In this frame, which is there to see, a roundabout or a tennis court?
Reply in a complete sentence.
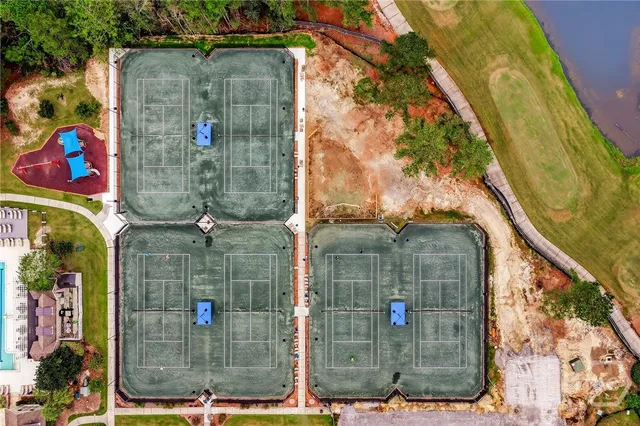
I can see a tennis court in this picture.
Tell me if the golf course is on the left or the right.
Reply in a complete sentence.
The golf course appears in the right half of the scene.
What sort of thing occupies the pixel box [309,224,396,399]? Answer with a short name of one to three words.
tennis court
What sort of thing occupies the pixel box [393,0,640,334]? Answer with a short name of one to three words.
golf course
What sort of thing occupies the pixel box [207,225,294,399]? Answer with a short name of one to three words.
tennis court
